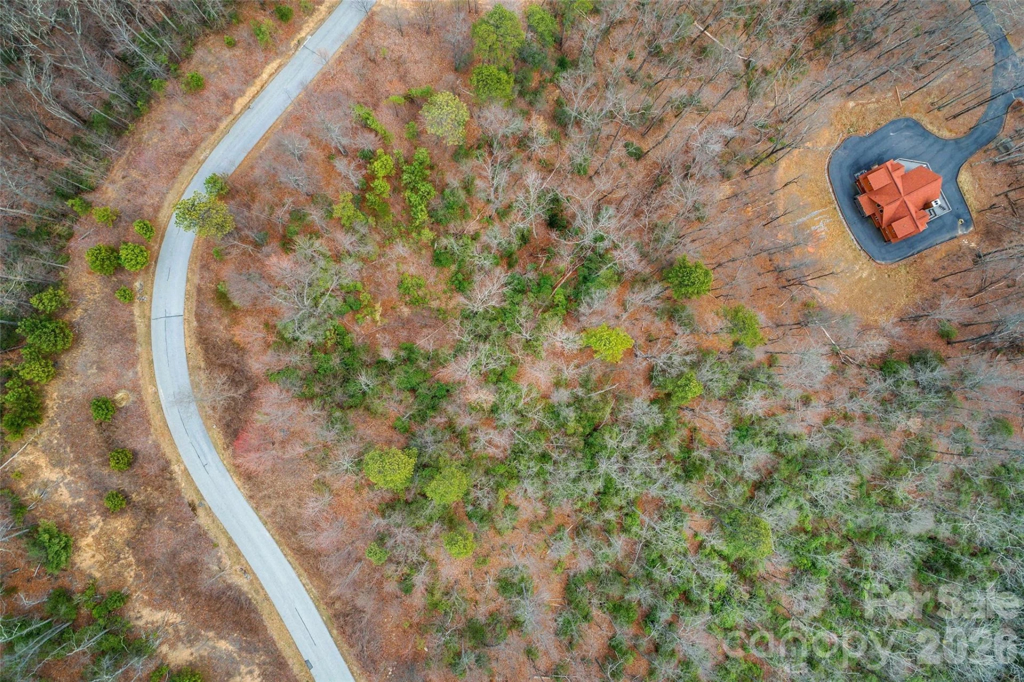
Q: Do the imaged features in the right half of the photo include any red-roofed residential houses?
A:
Yes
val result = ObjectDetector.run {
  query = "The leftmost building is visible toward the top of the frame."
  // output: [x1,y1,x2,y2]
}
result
[845,159,942,243]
